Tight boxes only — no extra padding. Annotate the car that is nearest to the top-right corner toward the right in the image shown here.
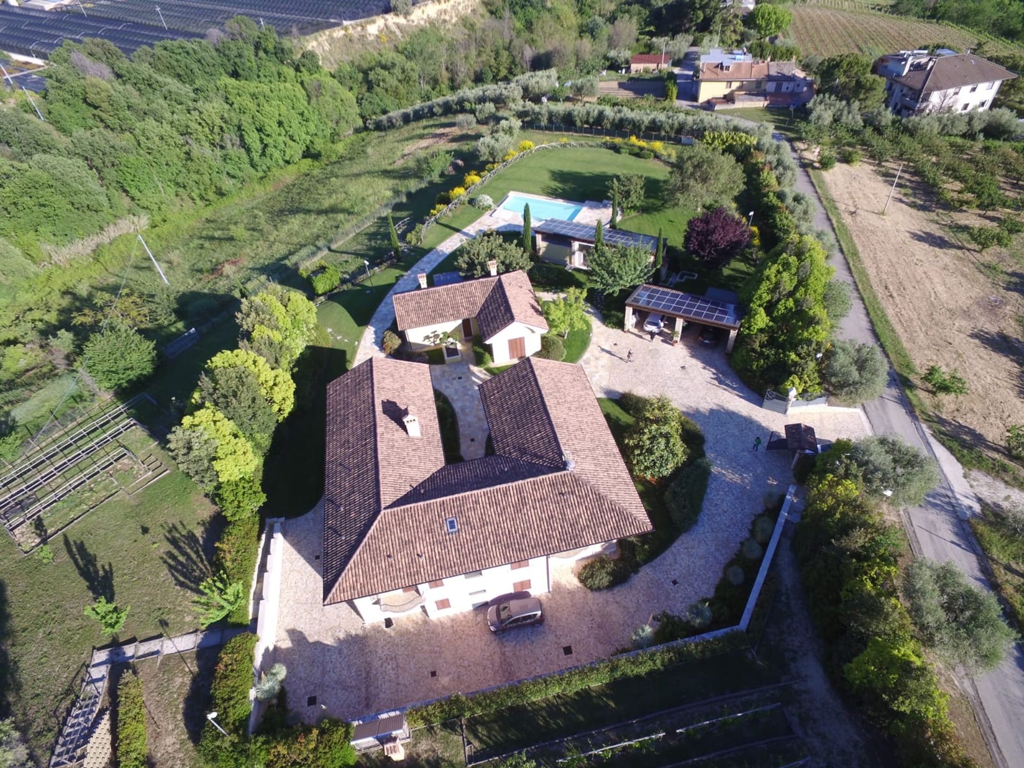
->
[702,326,722,341]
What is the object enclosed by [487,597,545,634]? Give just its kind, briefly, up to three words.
car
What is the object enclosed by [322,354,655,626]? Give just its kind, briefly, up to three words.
house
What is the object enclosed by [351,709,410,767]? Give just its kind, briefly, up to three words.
shed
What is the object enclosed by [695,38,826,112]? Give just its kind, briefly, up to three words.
house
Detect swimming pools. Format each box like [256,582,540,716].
[466,190,611,231]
